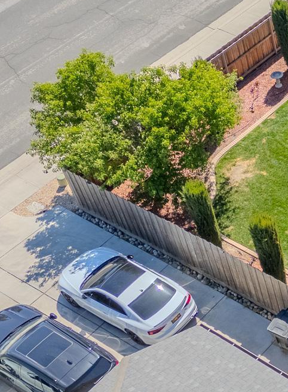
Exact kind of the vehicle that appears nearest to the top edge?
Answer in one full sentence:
Looking closely, the vehicle that appears nearest to the top edge is an automobile.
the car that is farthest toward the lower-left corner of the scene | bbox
[0,308,111,392]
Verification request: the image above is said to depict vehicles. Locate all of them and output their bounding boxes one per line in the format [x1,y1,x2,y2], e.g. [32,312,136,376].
[51,245,190,345]
[0,308,111,392]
